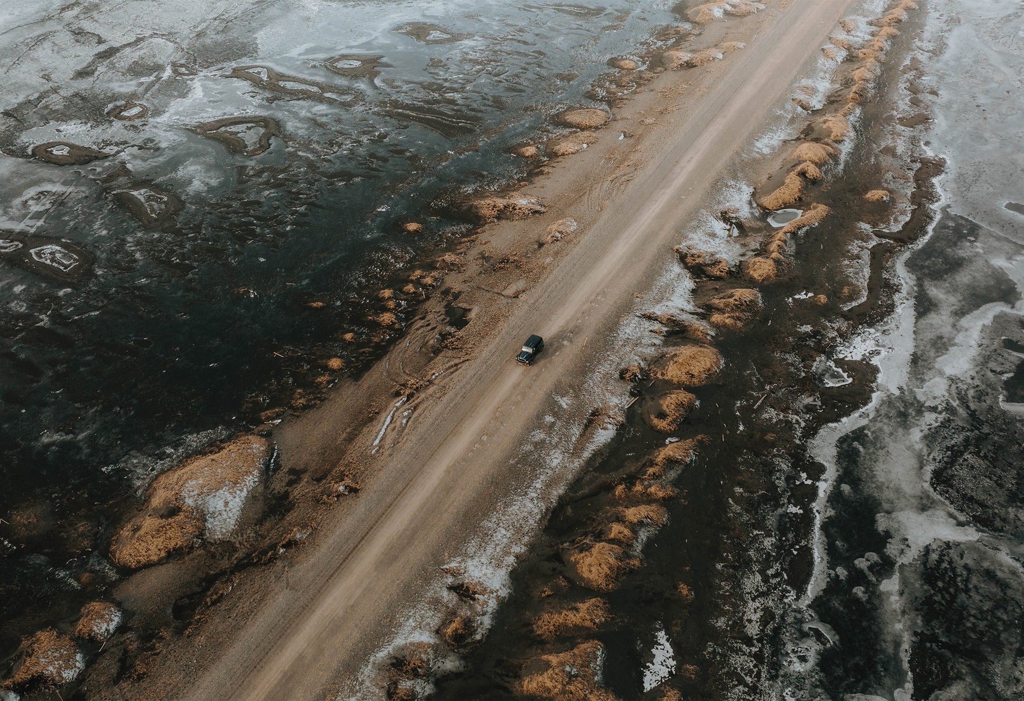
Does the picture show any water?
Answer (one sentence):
Yes, the picture does contain water.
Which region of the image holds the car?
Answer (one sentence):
The car sits in the center section of the image.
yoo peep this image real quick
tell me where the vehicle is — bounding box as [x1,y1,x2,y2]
[516,337,544,367]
